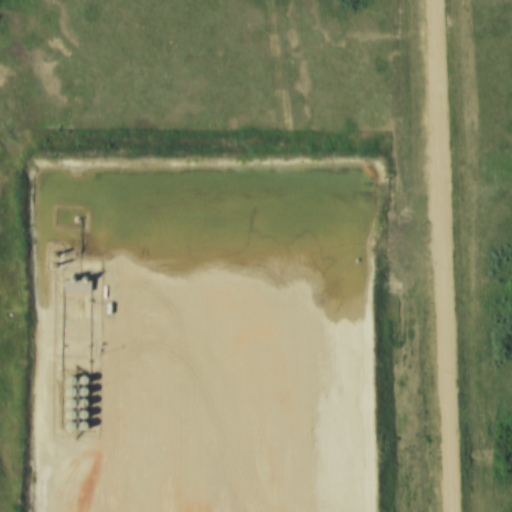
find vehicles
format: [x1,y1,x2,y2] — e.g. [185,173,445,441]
[102,286,108,300]
[106,302,112,316]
